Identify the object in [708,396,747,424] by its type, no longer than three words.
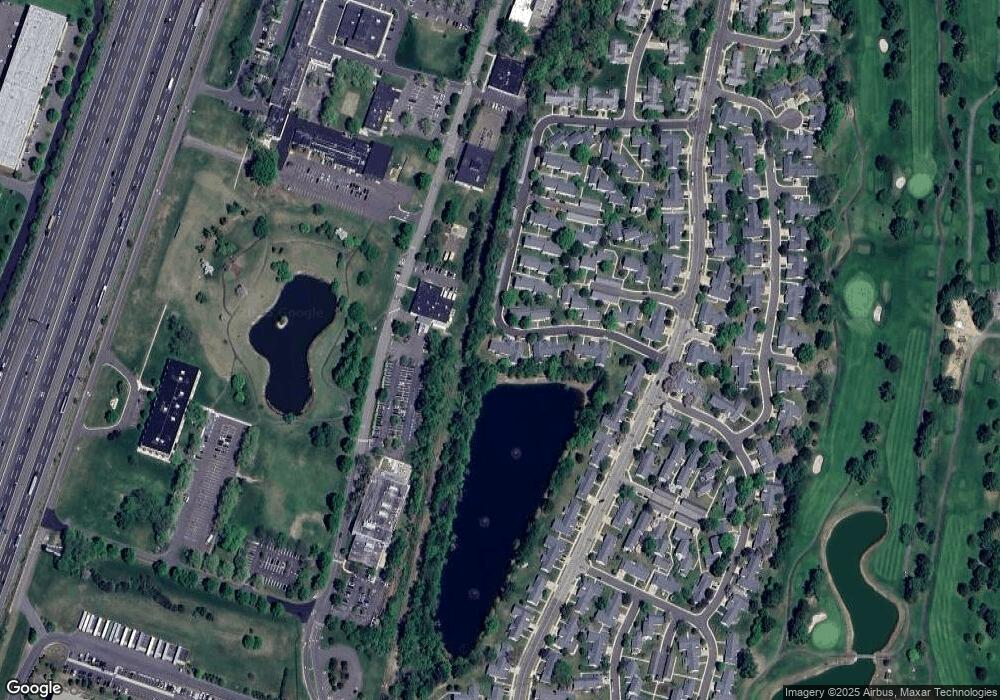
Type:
house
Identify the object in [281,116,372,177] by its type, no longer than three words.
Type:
building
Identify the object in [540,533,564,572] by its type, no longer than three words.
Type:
house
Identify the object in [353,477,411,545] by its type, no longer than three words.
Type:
building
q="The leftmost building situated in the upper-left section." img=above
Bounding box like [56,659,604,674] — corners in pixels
[0,5,68,170]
